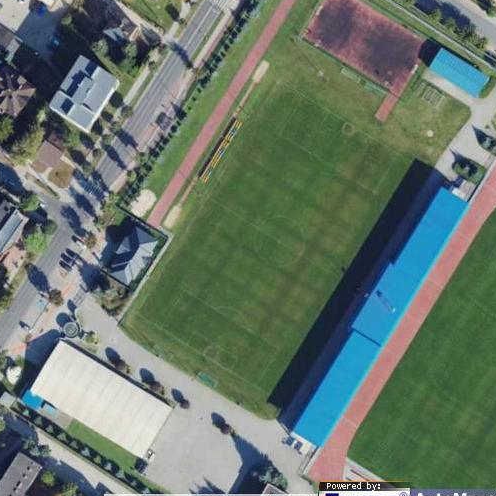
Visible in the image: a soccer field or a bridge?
soccer field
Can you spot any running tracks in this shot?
Yes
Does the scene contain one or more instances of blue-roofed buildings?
Yes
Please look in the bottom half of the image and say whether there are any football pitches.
Yes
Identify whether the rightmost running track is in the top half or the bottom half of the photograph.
bottom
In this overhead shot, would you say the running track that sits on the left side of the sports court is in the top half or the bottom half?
top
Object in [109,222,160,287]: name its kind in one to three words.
house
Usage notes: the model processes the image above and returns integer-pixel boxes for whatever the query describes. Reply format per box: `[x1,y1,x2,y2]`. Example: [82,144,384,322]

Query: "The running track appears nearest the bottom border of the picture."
[314,165,496,494]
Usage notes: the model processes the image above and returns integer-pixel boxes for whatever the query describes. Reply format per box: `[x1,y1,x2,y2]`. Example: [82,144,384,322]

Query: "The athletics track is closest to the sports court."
[147,0,295,229]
